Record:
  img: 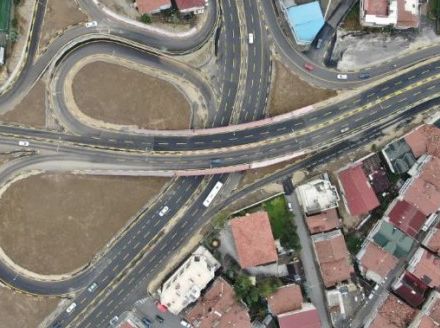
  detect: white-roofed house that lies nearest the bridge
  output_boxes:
[293,178,340,213]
